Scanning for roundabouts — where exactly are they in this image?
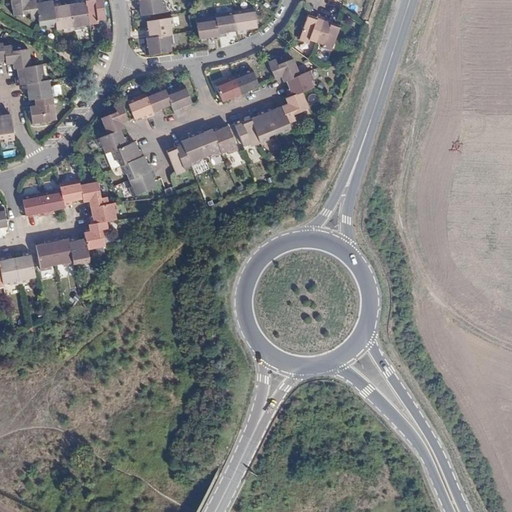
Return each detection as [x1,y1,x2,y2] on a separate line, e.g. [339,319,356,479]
[232,227,384,378]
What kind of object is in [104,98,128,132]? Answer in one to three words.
house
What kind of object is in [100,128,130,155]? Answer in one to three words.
house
